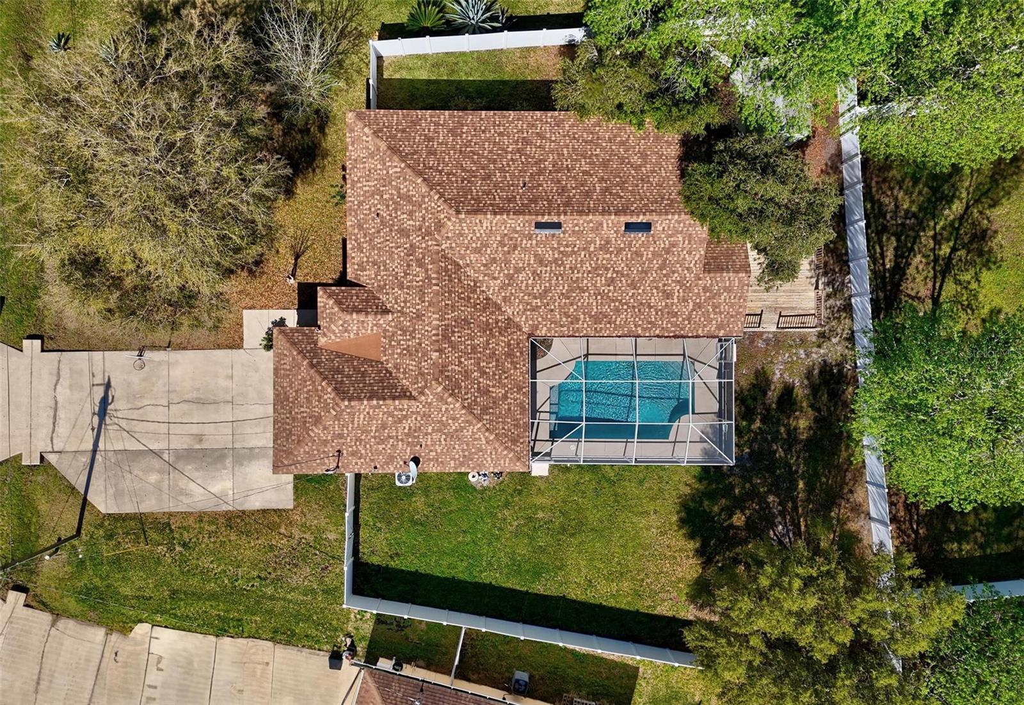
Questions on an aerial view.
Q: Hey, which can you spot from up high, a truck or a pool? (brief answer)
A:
pool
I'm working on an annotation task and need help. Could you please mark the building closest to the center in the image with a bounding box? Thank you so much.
[271,107,752,475]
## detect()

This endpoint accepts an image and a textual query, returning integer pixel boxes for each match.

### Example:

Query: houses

[271,107,752,475]
[345,654,558,705]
